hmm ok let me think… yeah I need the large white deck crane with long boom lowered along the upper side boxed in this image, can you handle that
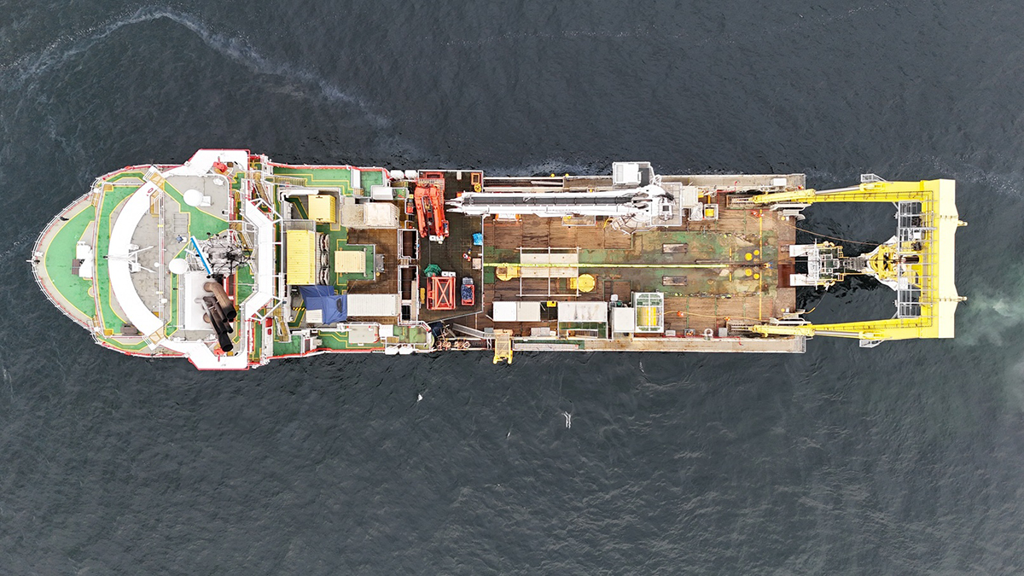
[446,182,683,238]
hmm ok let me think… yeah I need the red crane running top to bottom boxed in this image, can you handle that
[415,172,449,279]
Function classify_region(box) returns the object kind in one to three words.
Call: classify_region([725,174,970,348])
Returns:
container crane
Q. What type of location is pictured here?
port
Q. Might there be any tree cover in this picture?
No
